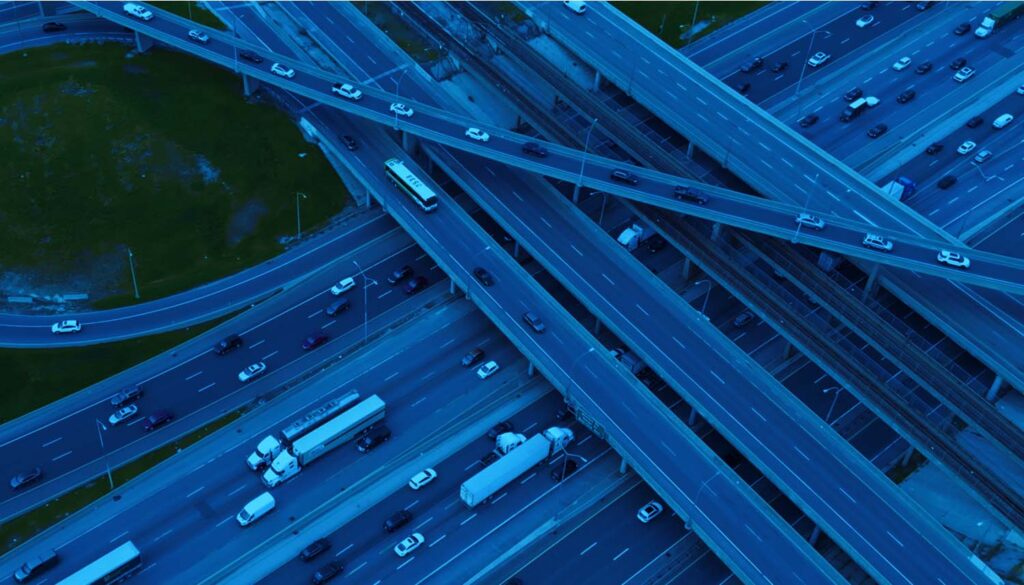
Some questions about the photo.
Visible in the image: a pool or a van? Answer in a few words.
van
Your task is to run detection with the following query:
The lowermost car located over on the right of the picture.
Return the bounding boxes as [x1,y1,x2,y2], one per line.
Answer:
[636,501,664,524]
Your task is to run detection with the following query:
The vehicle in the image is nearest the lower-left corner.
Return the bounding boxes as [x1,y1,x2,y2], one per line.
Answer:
[15,547,60,582]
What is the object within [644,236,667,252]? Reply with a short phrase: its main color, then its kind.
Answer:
black car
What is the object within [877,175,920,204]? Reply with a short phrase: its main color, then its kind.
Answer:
blue truck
